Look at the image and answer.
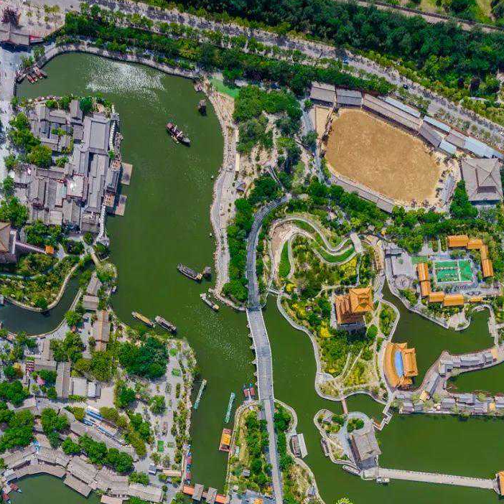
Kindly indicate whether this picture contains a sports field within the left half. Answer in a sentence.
No, within the left half there is no sports field.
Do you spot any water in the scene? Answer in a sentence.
Yes, water shows up in the scene.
